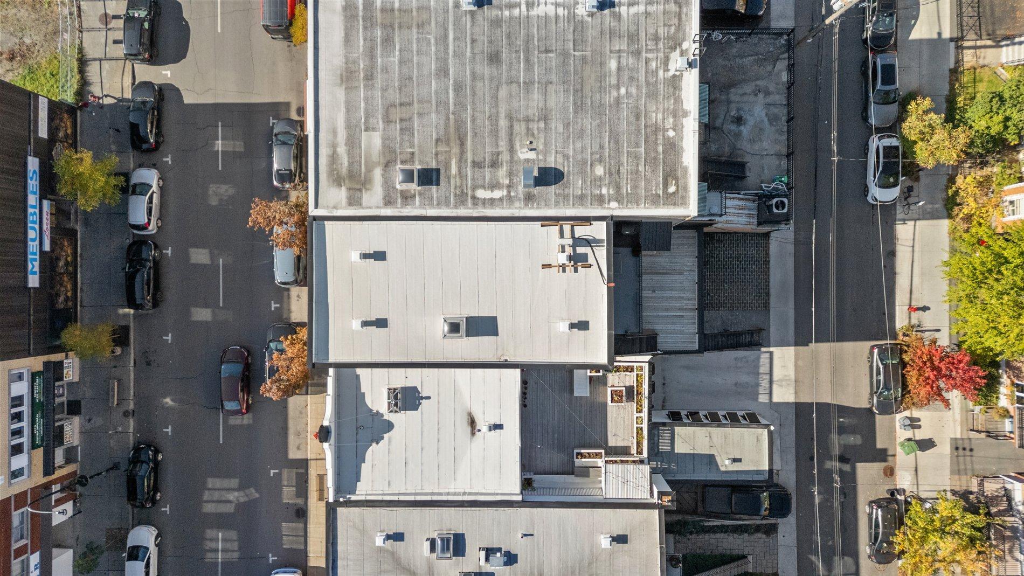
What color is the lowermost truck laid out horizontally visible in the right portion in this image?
black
